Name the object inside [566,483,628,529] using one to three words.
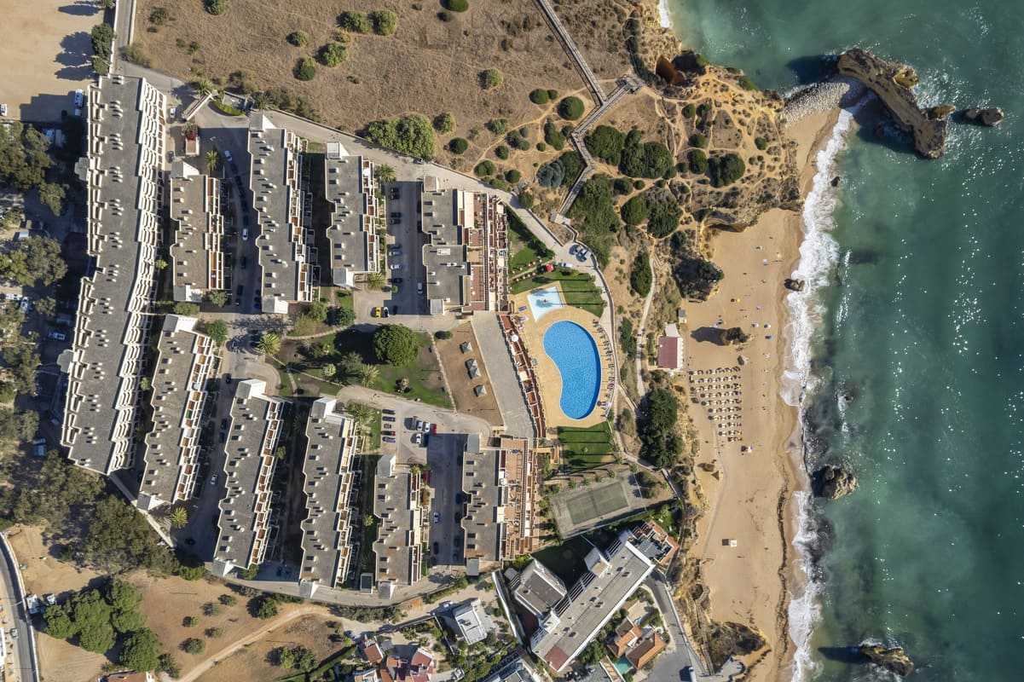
tennis court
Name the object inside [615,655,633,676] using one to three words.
swimming pool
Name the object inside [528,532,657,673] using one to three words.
building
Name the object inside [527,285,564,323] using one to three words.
swimming pool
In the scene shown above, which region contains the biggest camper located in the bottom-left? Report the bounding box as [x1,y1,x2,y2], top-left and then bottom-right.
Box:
[26,593,40,614]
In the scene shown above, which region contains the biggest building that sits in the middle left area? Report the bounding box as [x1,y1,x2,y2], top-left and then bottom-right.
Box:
[57,76,174,475]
